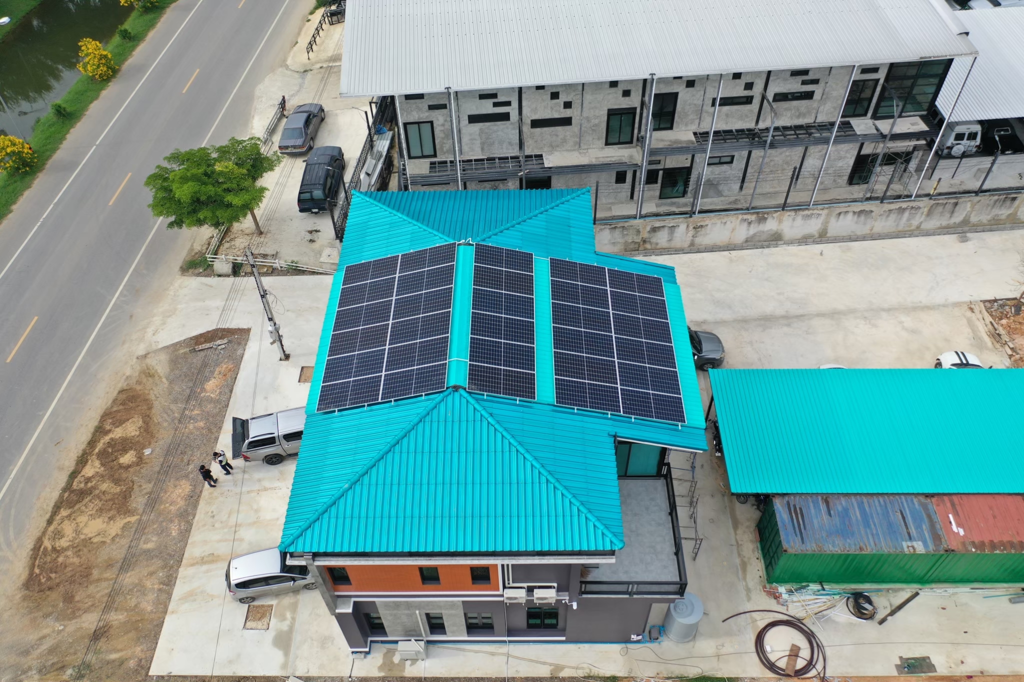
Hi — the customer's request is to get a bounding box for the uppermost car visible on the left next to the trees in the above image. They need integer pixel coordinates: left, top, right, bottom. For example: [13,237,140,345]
[280,101,325,153]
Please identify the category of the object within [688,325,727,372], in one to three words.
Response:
car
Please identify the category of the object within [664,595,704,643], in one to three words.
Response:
water tank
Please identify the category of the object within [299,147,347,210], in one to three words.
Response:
car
